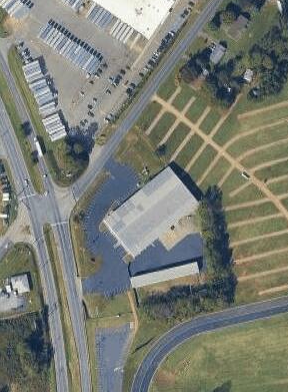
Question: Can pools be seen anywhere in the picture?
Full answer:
No, no pool can be seen from above.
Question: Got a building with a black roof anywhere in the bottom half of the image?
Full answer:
No, the scene shows no building with a black roof in the bottom half of the image.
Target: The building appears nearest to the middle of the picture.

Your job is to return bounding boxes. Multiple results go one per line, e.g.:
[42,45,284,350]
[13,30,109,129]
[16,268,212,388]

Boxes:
[103,166,197,261]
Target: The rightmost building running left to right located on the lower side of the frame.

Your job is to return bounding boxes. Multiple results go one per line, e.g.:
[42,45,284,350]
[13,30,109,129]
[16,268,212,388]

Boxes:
[131,262,200,287]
